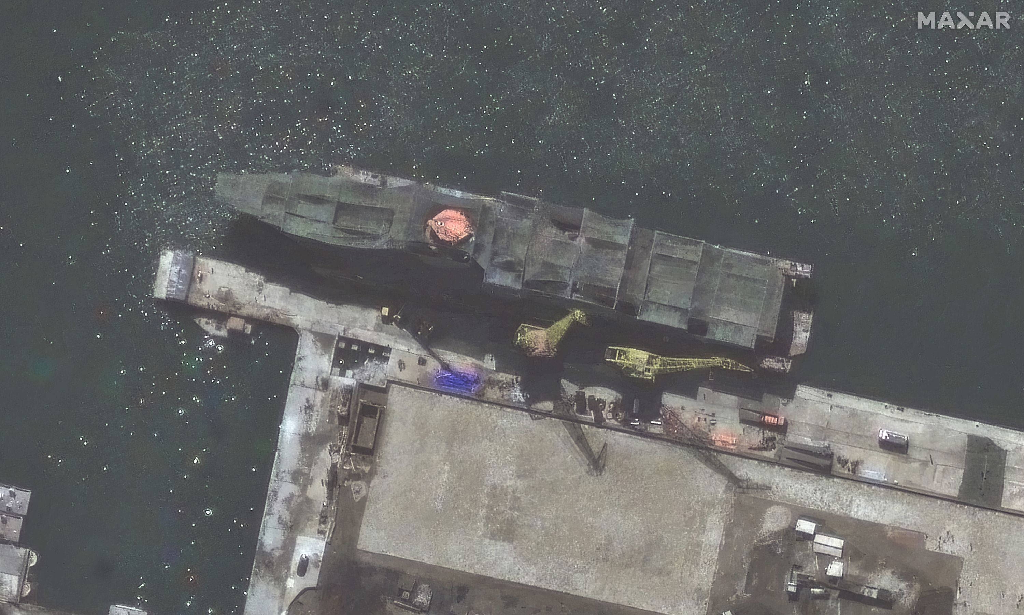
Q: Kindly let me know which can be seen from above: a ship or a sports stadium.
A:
ship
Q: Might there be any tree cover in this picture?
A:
No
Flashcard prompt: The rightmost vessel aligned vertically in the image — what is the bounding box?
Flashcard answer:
[789,310,813,356]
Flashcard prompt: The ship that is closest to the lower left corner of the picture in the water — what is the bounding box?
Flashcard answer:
[0,514,24,542]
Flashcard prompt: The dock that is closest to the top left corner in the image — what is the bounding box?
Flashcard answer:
[154,249,193,301]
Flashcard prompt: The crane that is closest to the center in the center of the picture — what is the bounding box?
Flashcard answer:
[514,307,593,357]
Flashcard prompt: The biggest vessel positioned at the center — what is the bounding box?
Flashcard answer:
[215,171,812,348]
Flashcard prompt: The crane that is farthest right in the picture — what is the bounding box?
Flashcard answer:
[605,341,754,383]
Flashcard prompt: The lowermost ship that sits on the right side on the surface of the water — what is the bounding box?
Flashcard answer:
[760,355,792,372]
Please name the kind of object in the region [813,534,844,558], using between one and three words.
shed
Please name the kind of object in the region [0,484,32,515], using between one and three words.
ship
